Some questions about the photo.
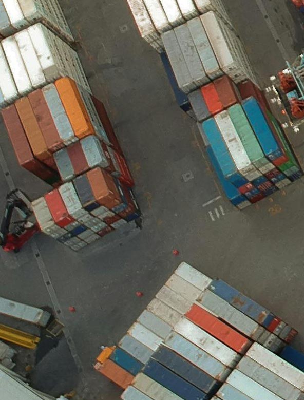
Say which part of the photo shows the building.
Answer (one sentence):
The building sits in the bottom left section of the image.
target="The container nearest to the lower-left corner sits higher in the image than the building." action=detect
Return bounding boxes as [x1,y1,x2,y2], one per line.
[0,300,50,327]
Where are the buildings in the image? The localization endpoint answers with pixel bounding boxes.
[0,364,65,400]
